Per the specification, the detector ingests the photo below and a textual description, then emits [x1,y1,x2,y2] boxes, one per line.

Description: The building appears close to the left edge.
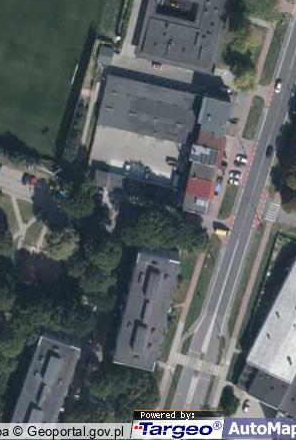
[4,332,80,440]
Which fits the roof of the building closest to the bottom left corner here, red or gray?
gray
